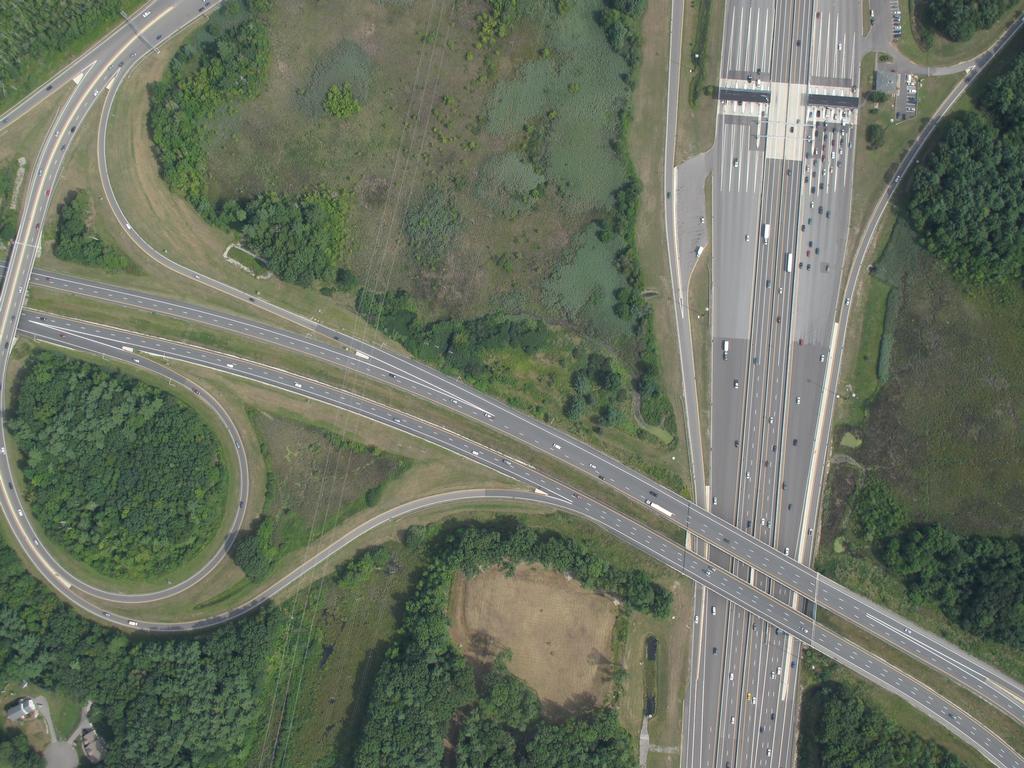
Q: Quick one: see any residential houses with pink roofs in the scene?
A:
No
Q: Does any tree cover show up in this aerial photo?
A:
Yes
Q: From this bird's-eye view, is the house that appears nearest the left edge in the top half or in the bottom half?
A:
bottom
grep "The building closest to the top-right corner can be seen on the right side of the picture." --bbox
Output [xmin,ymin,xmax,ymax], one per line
[876,71,896,95]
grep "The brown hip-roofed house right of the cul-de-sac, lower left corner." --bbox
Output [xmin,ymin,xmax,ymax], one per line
[79,729,101,763]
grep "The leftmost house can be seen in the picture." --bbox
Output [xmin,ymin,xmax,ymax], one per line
[5,698,41,721]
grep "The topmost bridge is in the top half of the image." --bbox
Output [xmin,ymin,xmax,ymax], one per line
[0,243,37,349]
